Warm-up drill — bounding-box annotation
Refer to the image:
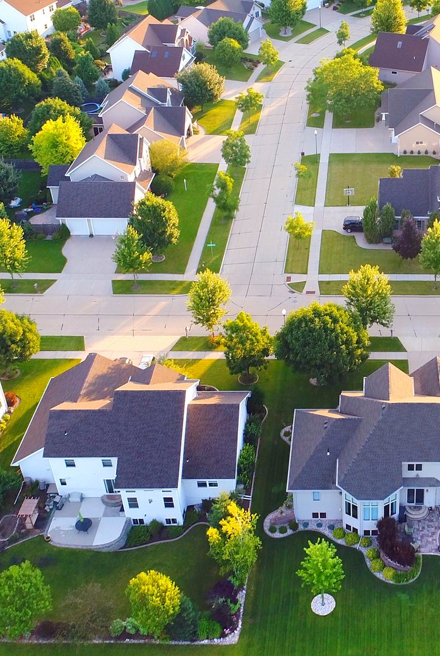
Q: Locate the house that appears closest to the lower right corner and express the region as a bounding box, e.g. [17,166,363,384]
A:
[285,352,440,535]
